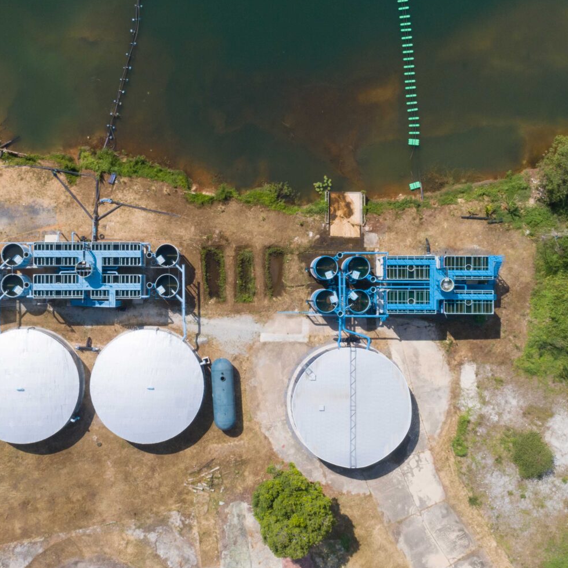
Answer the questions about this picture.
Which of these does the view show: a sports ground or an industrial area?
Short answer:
industrial area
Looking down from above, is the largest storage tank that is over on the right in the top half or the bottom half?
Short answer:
bottom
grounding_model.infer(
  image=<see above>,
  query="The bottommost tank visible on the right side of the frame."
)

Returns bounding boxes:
[287,343,411,469]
